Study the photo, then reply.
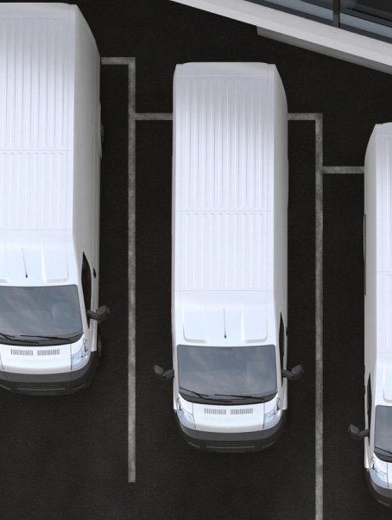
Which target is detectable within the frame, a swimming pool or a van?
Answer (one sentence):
I can see a van in this picture.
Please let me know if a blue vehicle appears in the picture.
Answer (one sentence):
No, this view has no blue vehicle in it.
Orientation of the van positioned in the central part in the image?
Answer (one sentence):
What the image shows is the van positioned in the central part lying up and down.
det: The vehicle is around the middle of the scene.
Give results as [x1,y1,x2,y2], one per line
[155,61,303,454]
